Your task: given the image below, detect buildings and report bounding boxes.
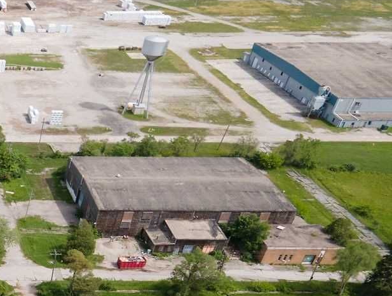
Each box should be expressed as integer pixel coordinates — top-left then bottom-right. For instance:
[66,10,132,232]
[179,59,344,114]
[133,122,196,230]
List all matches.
[130,101,148,114]
[63,156,297,238]
[246,43,392,128]
[251,224,350,266]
